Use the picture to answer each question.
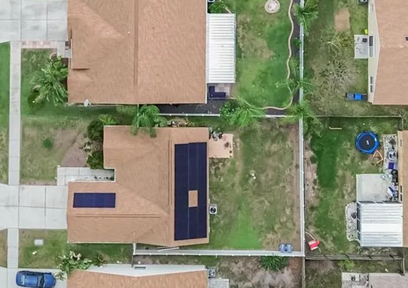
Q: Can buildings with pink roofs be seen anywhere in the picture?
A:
No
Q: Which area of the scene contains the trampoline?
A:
right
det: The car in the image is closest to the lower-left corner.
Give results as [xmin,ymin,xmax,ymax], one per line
[15,271,56,288]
